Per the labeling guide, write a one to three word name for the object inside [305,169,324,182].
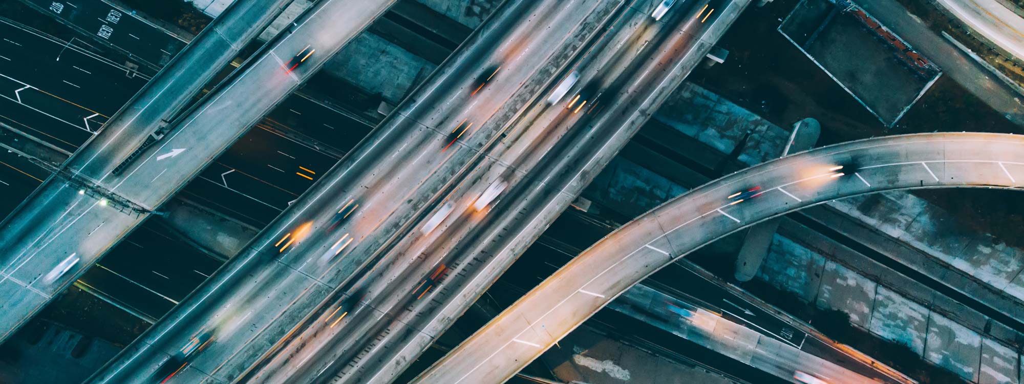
vehicle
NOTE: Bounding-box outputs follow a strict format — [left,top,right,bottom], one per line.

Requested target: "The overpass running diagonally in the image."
[80,0,754,384]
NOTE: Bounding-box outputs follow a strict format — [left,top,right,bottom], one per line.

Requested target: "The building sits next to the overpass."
[775,0,942,127]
